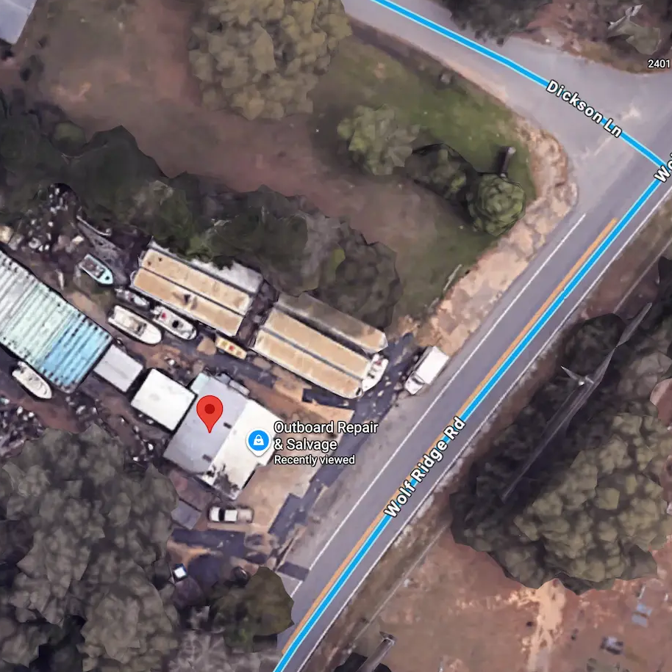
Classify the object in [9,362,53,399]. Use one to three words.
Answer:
boat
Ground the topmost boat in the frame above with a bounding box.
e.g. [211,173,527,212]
[78,254,114,284]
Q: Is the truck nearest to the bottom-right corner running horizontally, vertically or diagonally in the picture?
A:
diagonally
